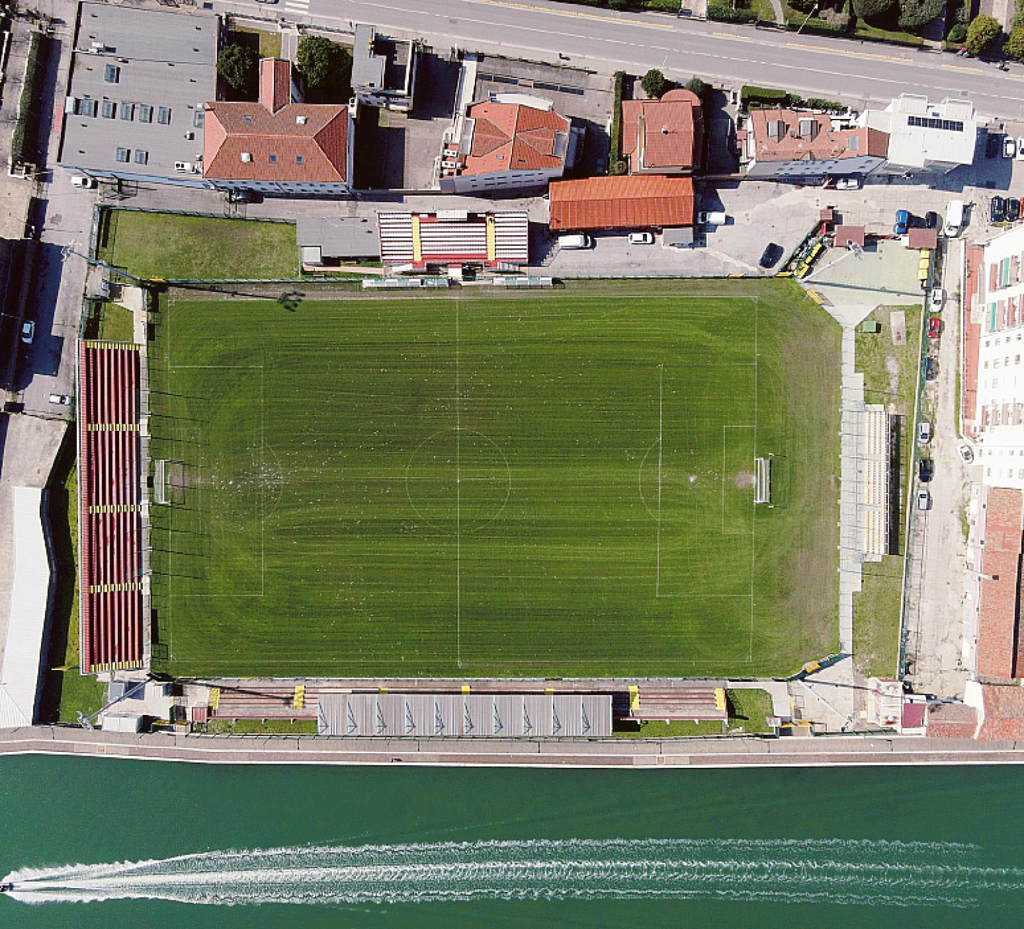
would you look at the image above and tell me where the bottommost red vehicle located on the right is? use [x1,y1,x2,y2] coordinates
[927,316,942,340]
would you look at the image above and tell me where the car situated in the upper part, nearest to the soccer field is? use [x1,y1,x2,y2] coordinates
[761,243,781,269]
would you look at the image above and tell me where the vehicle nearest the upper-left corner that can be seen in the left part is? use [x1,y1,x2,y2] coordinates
[71,176,95,189]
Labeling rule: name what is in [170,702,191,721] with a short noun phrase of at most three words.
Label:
shed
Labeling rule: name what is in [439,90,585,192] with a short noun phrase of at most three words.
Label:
house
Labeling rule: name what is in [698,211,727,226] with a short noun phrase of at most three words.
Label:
vehicle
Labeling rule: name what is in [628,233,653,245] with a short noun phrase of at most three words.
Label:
vehicle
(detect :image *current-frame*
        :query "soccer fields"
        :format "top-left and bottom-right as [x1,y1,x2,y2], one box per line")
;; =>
[149,279,840,678]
